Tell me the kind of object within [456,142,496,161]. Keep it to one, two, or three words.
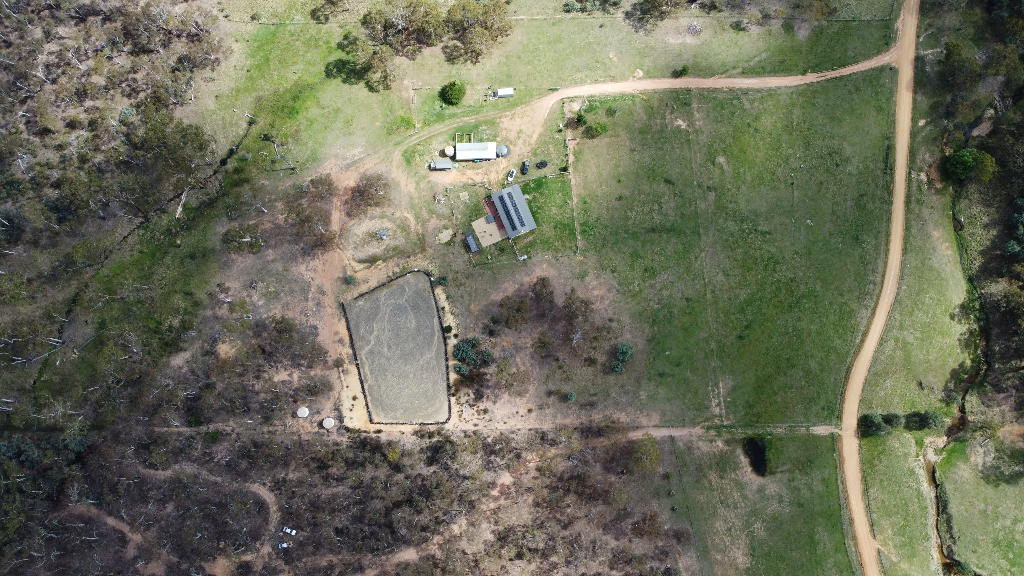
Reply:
shed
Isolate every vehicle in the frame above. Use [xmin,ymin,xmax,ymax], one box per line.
[508,168,516,181]
[282,527,296,535]
[277,541,293,550]
[523,159,530,173]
